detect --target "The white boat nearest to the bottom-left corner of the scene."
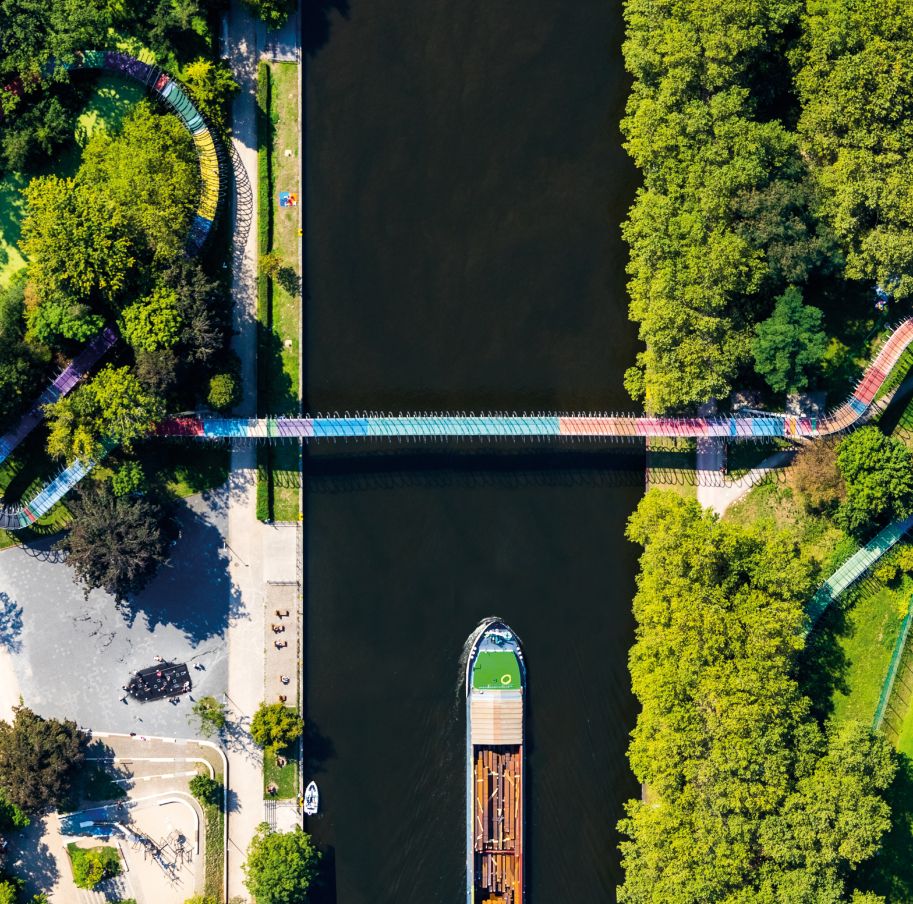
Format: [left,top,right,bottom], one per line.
[299,779,318,816]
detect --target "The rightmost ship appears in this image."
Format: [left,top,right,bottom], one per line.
[466,620,527,904]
